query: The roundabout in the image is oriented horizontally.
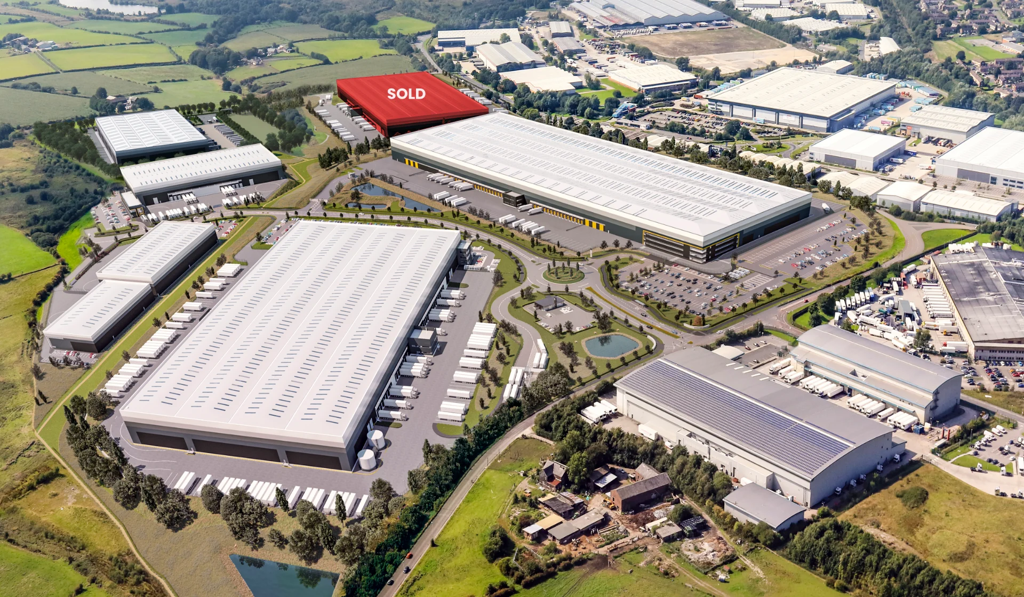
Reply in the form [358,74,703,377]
[528,260,600,290]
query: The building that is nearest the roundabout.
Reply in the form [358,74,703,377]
[532,291,566,313]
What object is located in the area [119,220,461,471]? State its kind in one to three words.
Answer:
warehouse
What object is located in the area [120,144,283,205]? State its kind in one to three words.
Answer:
building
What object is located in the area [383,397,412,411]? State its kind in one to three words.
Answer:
vehicle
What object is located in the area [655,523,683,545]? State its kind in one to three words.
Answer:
shed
